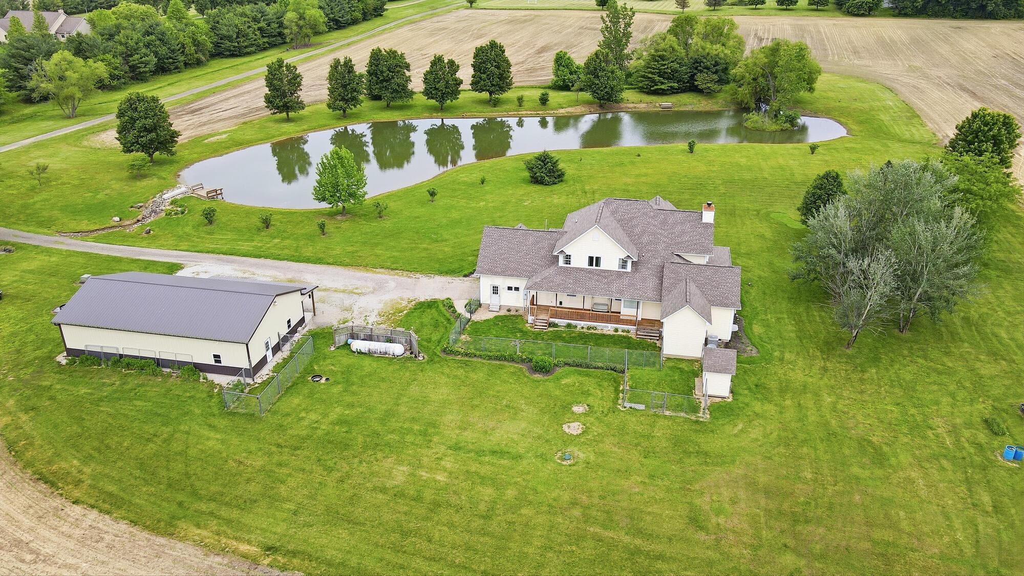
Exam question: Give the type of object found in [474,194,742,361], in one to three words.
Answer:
house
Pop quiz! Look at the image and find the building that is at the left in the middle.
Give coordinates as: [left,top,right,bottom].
[50,272,318,378]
